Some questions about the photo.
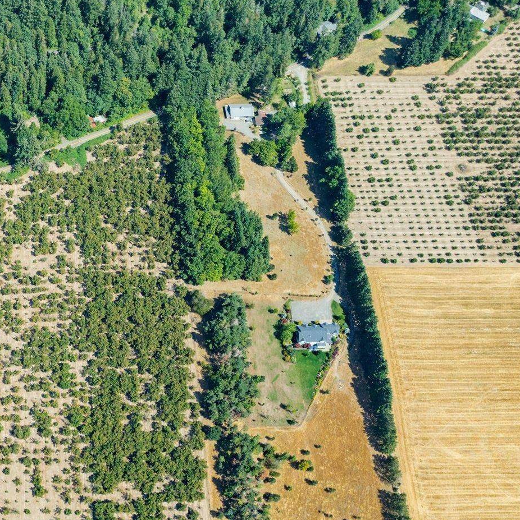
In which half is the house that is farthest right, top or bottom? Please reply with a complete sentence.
The house that is farthest right sits in the top half of the picture.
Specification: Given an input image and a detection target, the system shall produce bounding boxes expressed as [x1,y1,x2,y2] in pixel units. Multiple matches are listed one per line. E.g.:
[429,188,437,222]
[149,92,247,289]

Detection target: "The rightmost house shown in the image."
[466,0,492,26]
